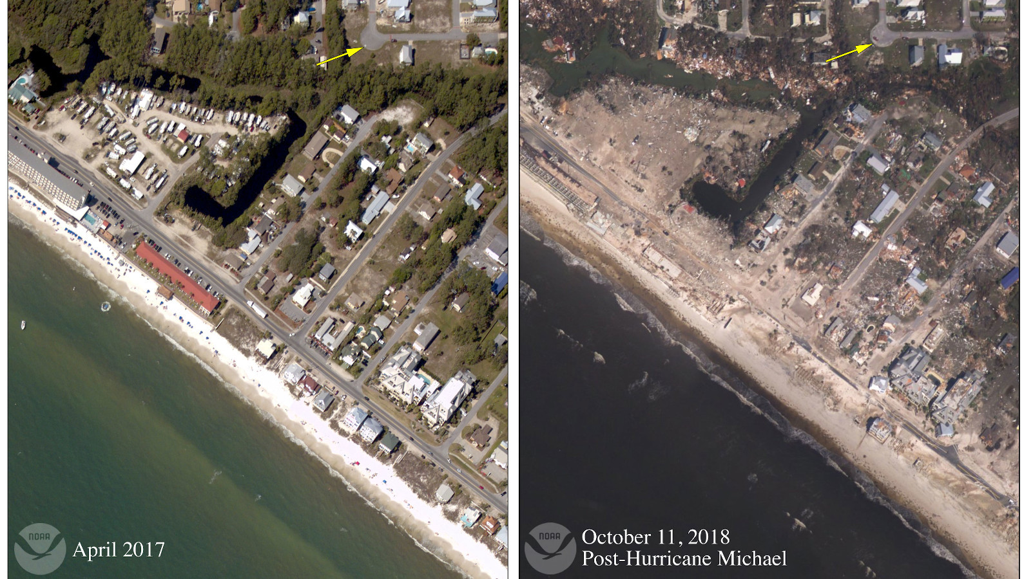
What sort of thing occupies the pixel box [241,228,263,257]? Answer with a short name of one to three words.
house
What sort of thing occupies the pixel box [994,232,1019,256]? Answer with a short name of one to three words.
house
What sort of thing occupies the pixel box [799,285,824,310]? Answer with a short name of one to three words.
building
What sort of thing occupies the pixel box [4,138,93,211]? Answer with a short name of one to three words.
building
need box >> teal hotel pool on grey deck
[79,209,104,233]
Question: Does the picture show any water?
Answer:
Yes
